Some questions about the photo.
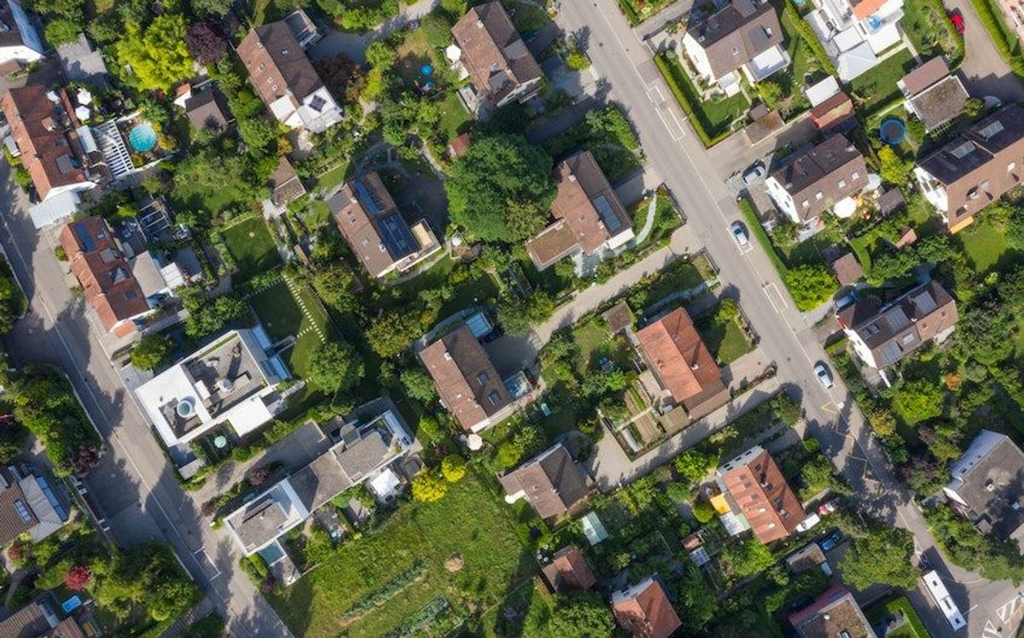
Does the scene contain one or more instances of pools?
Yes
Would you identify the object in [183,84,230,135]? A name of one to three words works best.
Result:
shed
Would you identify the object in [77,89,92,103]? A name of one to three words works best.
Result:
umbrella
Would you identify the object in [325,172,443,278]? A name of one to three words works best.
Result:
house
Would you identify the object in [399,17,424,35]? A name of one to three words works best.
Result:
car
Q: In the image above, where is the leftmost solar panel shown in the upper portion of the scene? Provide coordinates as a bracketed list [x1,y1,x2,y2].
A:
[76,228,100,256]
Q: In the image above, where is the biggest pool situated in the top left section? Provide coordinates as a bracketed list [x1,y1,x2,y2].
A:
[127,121,160,151]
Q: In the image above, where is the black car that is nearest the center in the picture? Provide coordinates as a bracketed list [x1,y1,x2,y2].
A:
[479,328,506,347]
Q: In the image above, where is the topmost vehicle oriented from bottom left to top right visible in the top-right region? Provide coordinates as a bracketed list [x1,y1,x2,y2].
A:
[739,163,766,185]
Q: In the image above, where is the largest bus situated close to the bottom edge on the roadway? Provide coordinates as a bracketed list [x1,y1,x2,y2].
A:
[918,563,967,635]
